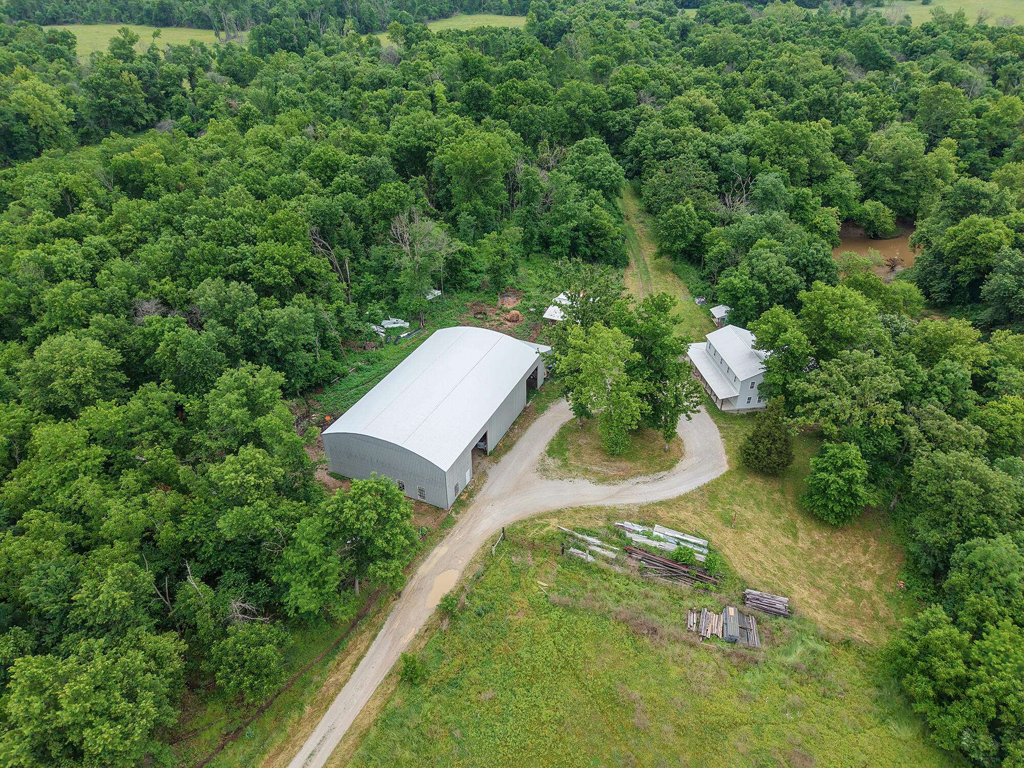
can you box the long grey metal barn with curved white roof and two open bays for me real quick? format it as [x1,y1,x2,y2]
[318,324,552,508]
